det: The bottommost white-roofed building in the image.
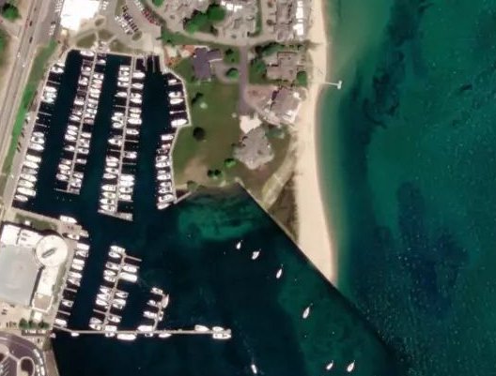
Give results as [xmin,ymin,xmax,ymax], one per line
[0,223,67,310]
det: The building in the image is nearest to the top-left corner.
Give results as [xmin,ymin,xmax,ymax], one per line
[60,0,99,31]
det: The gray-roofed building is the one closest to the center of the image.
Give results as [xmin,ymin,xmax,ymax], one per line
[234,125,273,168]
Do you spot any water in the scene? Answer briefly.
Yes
